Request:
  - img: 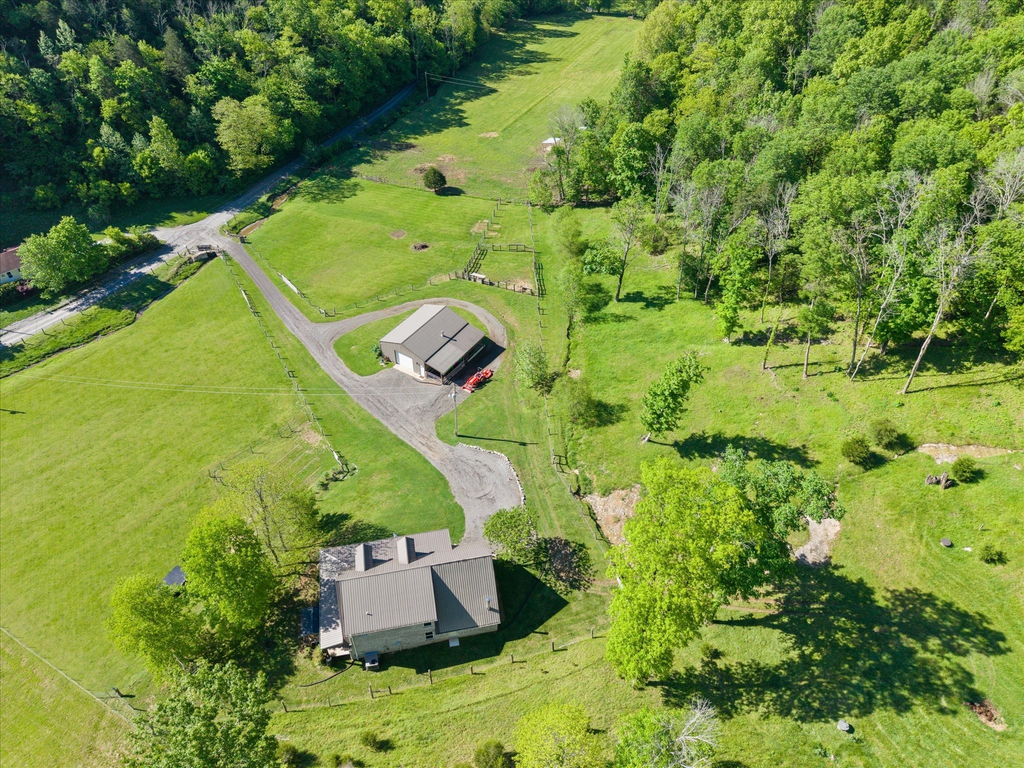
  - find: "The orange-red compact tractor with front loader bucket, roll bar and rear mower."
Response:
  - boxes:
[458,369,495,397]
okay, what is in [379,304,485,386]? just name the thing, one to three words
barn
